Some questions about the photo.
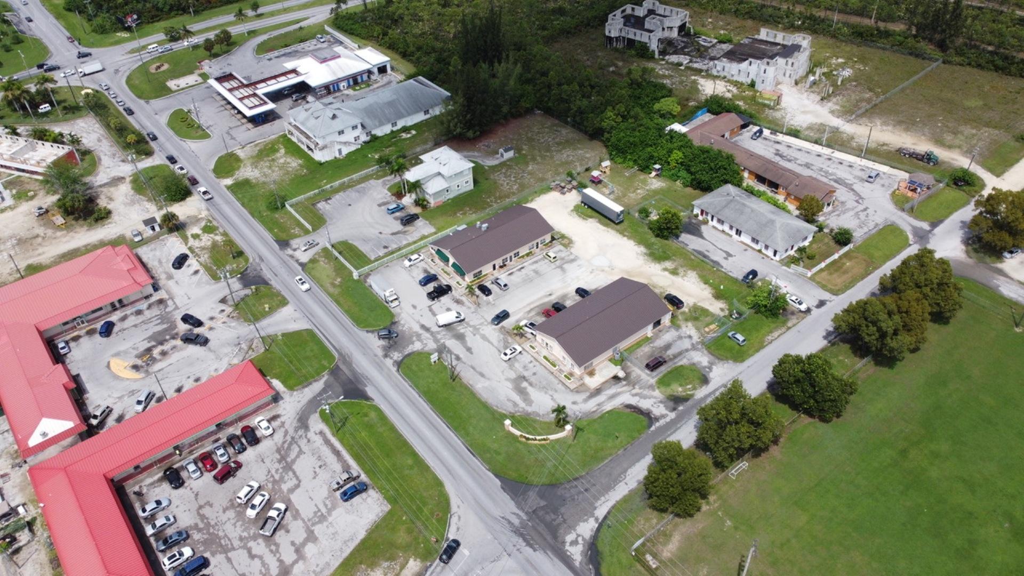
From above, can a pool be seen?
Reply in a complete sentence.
No, I can see no pool in this picture.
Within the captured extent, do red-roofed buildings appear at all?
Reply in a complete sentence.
Yes, the image includes a red-roofed building.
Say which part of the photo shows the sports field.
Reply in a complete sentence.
The sports field is in the bottom right part of the image.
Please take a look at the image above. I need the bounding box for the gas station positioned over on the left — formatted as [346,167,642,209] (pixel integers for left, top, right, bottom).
[199,46,391,124]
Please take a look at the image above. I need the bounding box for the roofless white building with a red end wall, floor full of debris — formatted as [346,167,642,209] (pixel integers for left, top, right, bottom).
[0,135,79,180]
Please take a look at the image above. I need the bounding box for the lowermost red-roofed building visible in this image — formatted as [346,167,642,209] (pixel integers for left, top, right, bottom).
[29,361,281,576]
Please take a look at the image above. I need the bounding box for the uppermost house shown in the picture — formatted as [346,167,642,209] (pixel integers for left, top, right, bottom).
[604,0,689,58]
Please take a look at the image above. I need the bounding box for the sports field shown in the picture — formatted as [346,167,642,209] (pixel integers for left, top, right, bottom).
[594,284,1024,576]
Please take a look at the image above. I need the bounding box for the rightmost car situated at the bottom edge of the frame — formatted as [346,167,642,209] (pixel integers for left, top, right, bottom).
[438,537,461,566]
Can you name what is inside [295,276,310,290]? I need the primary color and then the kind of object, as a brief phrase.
white car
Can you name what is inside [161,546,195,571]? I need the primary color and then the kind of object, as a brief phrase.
white car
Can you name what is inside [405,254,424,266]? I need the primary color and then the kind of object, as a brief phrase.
white vehicle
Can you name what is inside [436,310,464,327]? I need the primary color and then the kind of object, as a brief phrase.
white vehicle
